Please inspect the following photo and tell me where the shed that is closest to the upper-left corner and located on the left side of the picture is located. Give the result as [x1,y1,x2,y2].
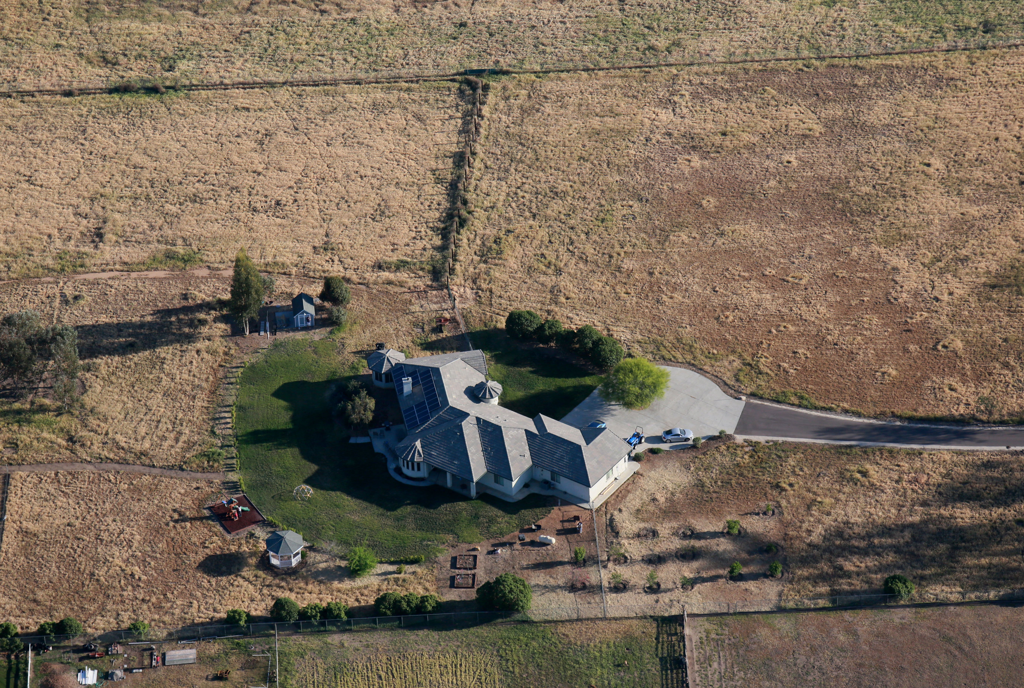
[292,292,315,327]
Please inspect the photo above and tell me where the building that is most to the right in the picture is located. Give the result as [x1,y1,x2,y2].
[367,348,632,501]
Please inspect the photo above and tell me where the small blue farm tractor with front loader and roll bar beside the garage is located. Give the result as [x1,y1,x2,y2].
[626,424,645,454]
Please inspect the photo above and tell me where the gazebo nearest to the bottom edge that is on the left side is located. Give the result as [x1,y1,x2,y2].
[265,530,305,571]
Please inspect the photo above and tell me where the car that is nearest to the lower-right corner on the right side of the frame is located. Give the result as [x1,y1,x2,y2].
[661,426,694,443]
